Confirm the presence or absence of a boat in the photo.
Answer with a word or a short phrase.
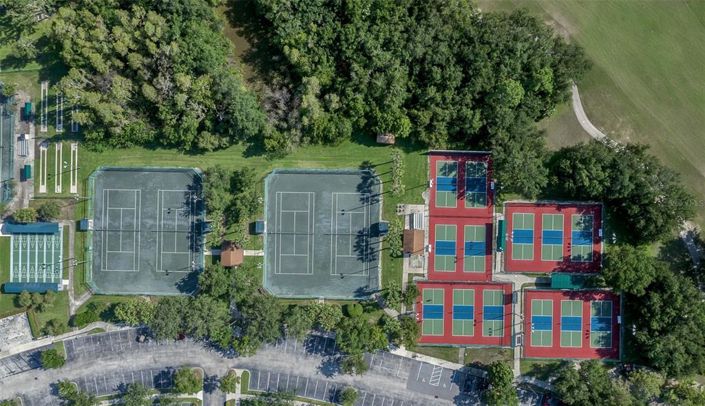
No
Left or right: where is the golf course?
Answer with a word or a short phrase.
right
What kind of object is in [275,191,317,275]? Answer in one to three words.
tennis court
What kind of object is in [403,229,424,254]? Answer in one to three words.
building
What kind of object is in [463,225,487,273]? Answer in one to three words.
sports court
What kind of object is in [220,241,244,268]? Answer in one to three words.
building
